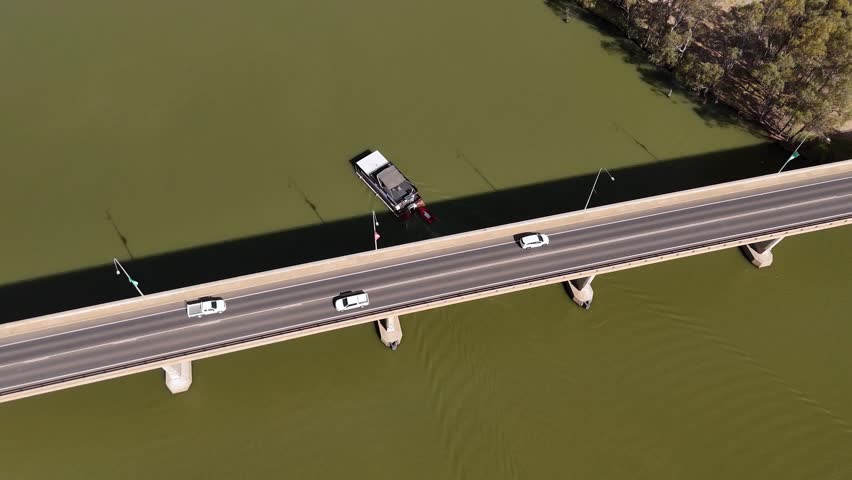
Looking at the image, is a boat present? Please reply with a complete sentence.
Yes, the frame does contain a boat.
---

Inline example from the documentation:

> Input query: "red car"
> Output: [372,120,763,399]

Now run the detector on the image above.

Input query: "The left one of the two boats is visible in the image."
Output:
[356,151,422,220]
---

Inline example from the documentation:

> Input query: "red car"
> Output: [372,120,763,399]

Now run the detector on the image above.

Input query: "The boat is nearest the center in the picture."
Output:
[417,206,431,225]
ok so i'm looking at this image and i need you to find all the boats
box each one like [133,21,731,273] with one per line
[417,206,431,225]
[356,151,422,220]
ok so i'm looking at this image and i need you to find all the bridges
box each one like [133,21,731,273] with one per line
[0,157,852,401]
